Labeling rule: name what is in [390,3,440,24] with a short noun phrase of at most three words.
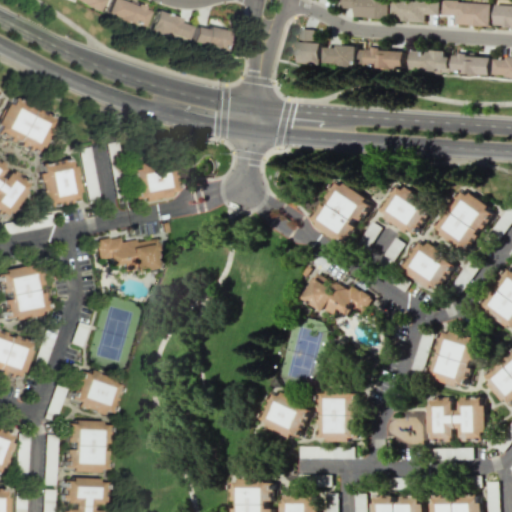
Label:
house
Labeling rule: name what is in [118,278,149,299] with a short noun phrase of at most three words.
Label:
swimming pool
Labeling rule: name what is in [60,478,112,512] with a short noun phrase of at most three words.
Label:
building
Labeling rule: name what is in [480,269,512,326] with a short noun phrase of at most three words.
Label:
building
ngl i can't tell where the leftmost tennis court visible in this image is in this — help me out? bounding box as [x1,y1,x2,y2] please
[90,297,142,370]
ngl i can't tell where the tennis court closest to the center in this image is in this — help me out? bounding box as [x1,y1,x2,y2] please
[281,319,328,384]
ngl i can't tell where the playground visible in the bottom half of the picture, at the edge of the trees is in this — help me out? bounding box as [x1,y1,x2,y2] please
[389,417,426,446]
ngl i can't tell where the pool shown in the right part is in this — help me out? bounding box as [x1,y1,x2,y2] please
[355,326,380,347]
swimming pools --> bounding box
[118,278,149,299]
[355,326,380,347]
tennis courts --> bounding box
[90,297,142,370]
[281,319,328,384]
